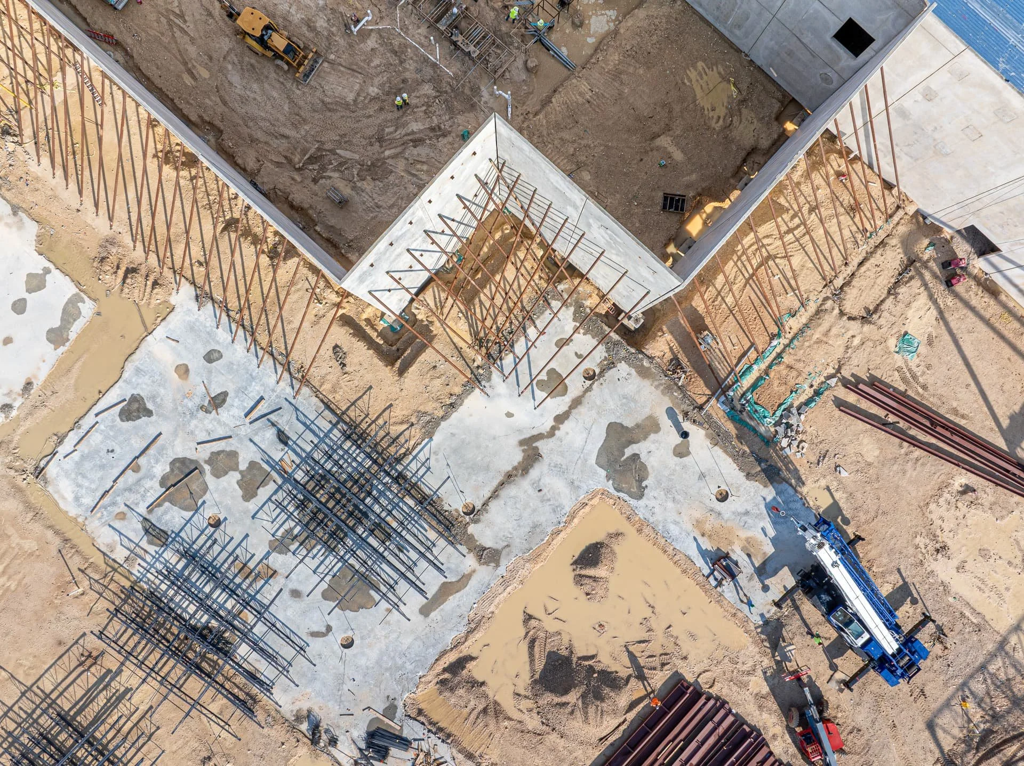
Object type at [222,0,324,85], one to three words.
work vehicle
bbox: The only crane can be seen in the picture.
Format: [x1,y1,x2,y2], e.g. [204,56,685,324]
[769,506,936,692]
